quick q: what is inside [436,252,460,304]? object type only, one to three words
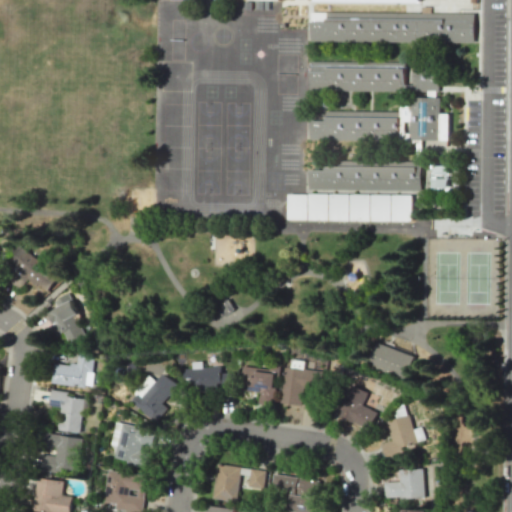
tennis court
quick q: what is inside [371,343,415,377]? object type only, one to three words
building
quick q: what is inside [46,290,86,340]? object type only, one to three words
house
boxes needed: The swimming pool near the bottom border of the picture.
[64,477,88,500]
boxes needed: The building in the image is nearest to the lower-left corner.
[34,476,74,512]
